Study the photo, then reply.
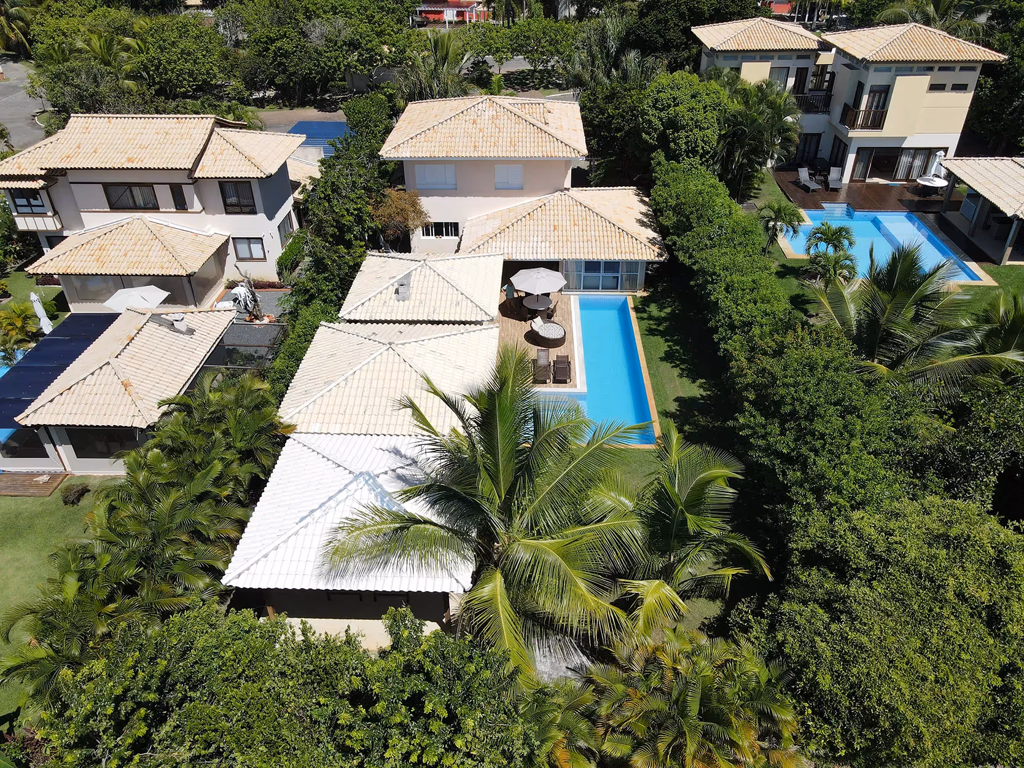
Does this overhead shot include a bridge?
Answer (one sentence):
No, the photo shows no bridge.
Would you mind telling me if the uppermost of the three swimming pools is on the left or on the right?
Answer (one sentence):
You can find the uppermost of the three swimming pools on the right side of the picture.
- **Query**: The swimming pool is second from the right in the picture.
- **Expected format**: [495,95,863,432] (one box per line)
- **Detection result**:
[507,294,664,450]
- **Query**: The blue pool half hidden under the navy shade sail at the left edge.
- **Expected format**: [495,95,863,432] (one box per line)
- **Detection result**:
[0,346,29,374]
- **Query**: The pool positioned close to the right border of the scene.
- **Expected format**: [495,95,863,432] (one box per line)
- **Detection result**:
[766,203,998,286]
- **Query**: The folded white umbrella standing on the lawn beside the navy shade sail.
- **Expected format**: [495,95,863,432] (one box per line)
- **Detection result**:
[29,290,51,335]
